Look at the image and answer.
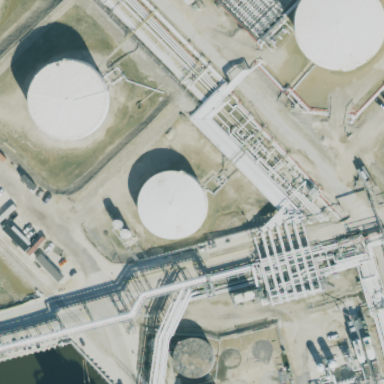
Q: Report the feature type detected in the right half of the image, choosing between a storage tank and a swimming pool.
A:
storage tank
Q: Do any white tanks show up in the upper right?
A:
Yes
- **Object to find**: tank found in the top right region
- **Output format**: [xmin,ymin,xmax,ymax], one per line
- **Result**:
[292,0,384,74]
